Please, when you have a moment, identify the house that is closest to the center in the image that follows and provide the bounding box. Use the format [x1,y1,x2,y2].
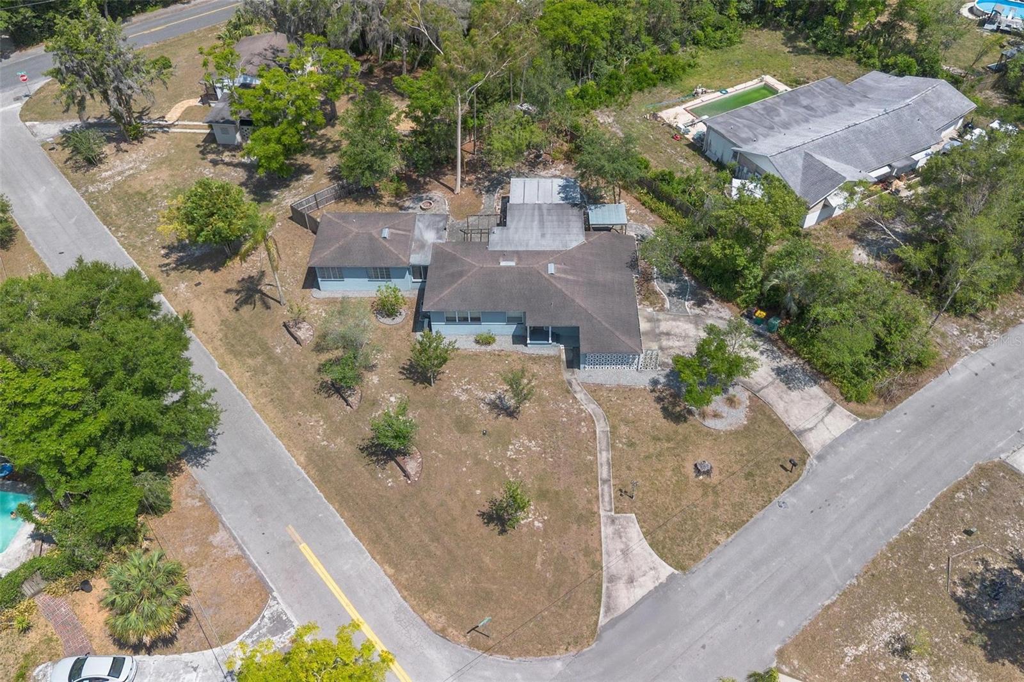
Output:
[308,178,658,369]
